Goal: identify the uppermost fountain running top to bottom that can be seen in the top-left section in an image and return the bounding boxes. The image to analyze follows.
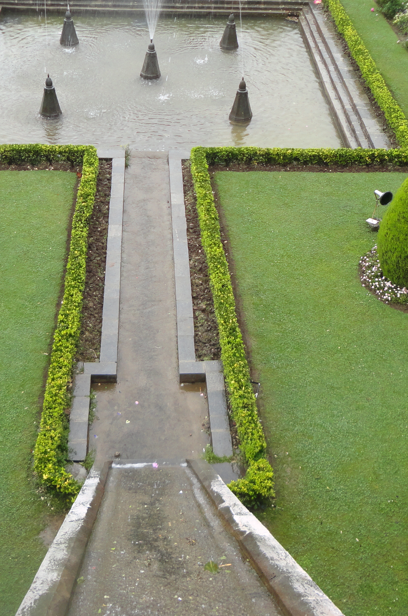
[60,9,79,49]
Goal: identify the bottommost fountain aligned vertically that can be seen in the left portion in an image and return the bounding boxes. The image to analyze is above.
[40,75,62,122]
